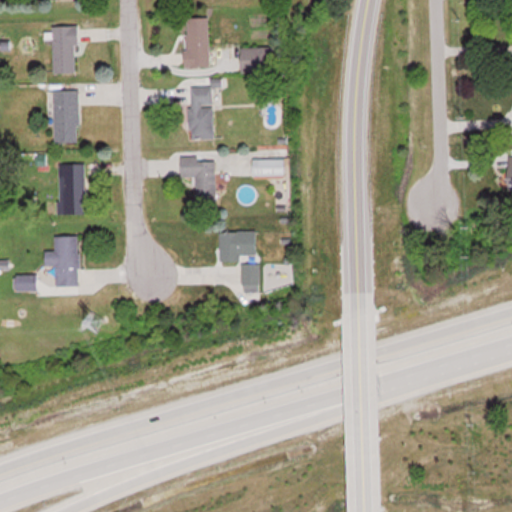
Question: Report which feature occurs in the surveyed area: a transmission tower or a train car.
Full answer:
The one in the frame is a transmission tower.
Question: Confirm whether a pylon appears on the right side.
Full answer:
No, on the right side there is no pylon.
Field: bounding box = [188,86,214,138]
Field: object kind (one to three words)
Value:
house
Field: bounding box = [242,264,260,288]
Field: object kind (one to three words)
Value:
building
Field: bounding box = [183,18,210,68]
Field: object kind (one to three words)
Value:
house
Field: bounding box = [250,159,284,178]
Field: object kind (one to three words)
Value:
shed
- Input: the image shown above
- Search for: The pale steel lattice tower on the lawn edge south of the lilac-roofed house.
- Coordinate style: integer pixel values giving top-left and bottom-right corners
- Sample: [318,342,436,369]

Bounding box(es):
[80,308,106,334]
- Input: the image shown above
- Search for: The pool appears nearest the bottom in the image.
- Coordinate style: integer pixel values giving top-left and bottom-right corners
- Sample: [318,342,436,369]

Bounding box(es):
[234,184,258,206]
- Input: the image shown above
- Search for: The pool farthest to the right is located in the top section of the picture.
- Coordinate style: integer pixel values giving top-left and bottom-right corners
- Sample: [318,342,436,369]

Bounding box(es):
[262,104,282,130]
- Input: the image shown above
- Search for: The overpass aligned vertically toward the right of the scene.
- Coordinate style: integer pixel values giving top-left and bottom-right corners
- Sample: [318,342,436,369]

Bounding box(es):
[341,302,380,466]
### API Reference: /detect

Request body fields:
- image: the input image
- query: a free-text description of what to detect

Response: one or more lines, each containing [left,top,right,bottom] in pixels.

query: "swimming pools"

[262,104,282,130]
[234,184,258,206]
